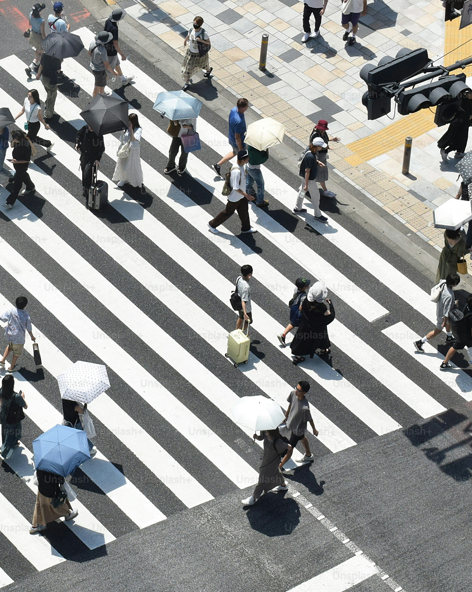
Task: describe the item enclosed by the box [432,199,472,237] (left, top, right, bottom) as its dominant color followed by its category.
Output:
white umbrella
